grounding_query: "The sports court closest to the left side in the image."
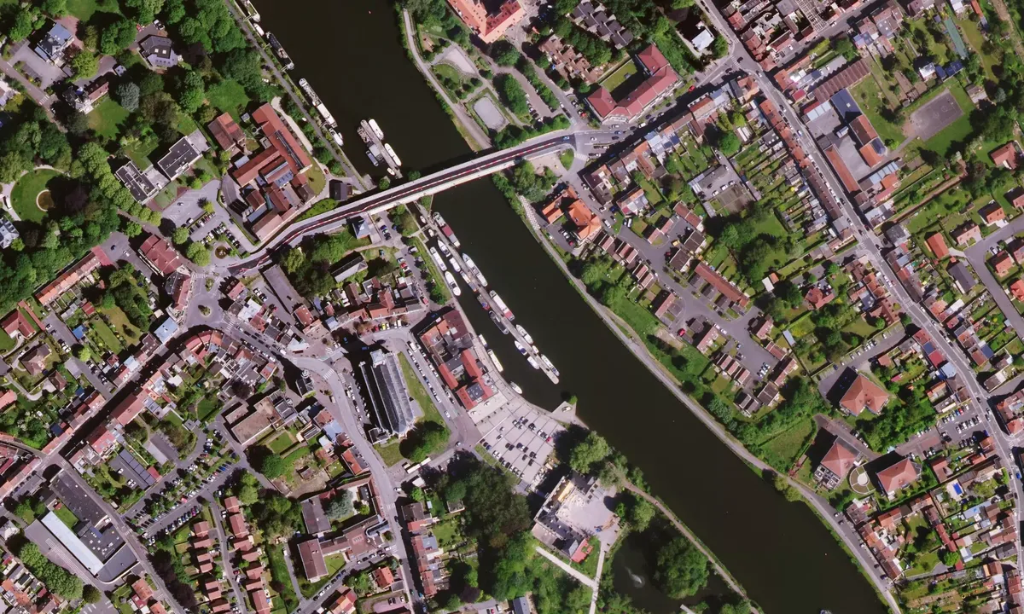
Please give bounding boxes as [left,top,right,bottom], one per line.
[474,96,506,130]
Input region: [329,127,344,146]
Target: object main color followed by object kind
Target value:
white boat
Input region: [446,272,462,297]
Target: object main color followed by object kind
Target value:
white boat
